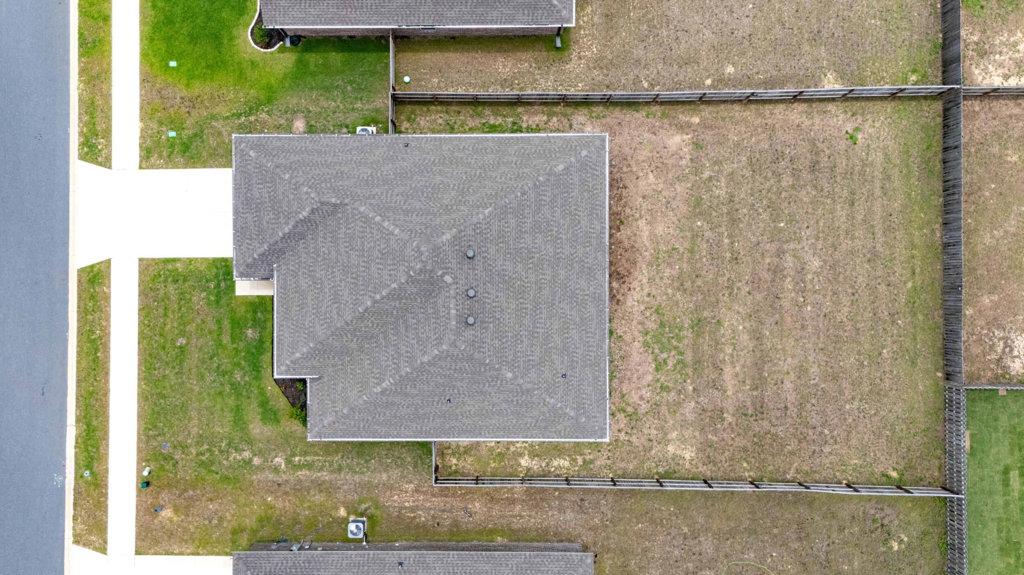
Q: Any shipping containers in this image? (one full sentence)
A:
No, the scene contains no shipping container.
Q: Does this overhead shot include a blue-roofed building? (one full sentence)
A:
No, I can see no blue-roofed building in this picture.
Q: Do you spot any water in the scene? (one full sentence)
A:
No, there's no water in this view.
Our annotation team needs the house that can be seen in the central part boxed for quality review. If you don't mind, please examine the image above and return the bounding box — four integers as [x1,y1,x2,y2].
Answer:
[233,133,609,441]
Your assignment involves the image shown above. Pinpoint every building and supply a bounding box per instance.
[232,542,598,575]
[260,0,576,39]
[233,133,609,441]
